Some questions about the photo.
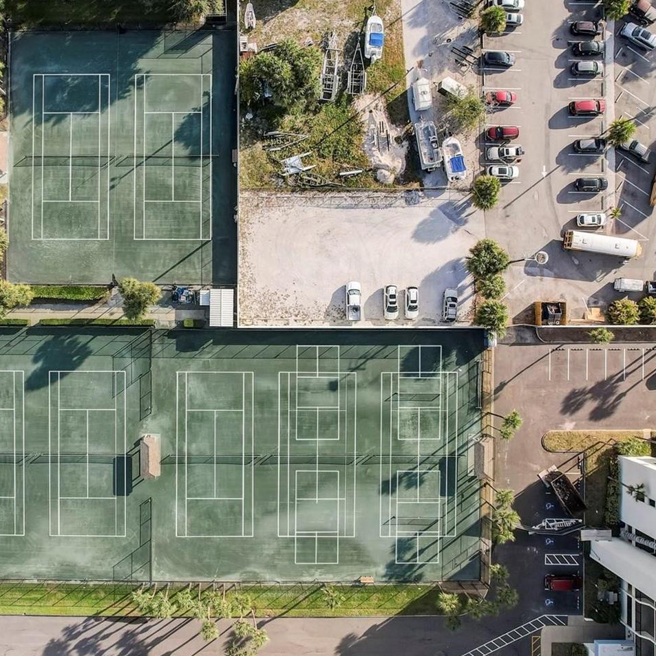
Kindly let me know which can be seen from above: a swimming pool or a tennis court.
tennis court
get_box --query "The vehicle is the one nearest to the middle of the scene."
[345,281,361,320]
